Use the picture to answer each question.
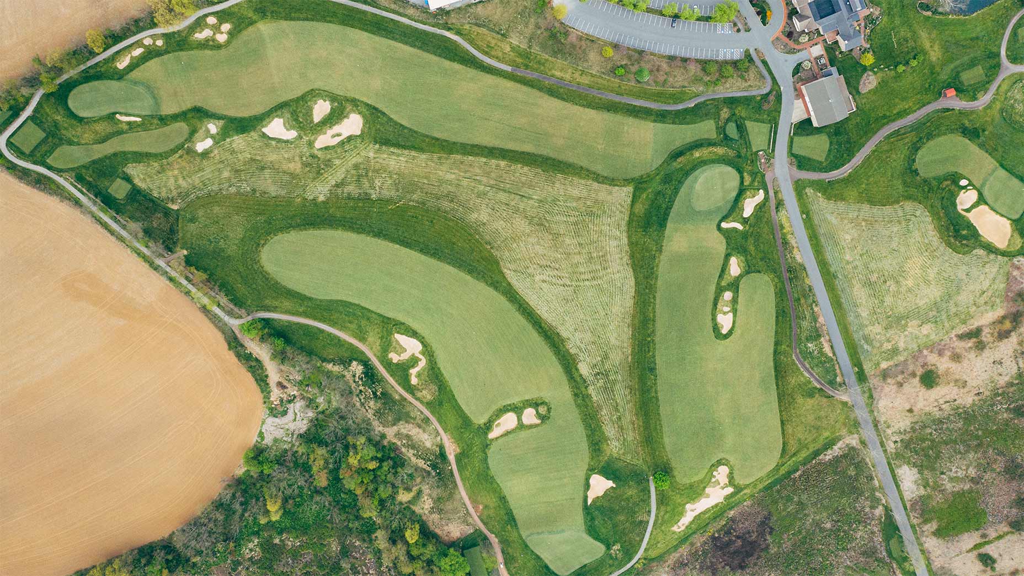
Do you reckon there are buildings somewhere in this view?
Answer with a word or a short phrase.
Yes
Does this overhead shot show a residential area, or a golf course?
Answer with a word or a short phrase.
golf course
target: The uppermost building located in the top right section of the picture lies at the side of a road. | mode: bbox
[789,0,867,54]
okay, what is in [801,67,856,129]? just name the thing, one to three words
building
